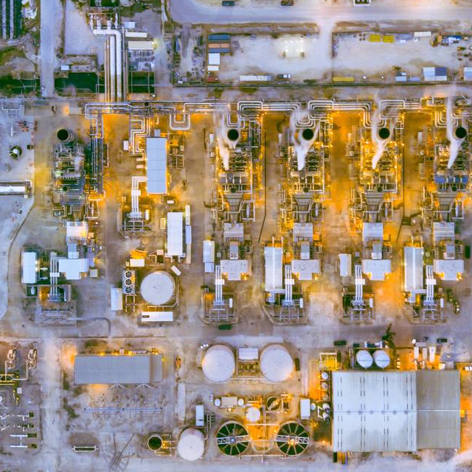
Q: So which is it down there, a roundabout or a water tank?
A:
water tank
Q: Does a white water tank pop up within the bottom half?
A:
Yes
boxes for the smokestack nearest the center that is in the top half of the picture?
[226,127,241,147]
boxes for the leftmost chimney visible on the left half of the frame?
[55,126,85,147]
